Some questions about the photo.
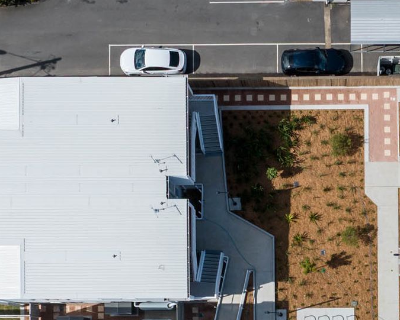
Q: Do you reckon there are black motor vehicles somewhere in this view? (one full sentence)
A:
Yes, the picture does show a black motor vehicle.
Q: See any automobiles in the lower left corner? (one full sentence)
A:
No, there is no automobile in the lower left corner.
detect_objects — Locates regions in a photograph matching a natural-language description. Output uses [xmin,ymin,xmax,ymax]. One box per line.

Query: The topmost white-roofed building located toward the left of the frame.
[0,76,197,304]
